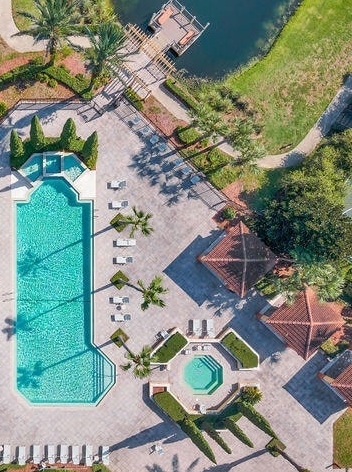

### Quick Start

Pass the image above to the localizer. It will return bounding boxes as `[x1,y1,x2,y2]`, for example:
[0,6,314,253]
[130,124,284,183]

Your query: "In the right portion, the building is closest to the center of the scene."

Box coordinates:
[193,219,275,299]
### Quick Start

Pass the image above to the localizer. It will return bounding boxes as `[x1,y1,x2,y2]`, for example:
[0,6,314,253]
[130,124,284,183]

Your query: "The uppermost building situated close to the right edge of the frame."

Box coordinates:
[255,281,348,364]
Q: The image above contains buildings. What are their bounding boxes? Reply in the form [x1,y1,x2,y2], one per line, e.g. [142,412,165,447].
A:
[193,219,275,299]
[323,359,352,410]
[255,281,348,364]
